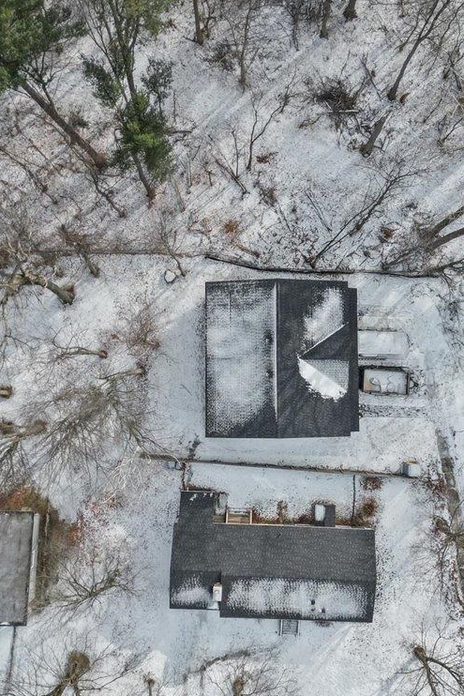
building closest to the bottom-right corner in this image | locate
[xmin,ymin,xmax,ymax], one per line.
[169,489,378,633]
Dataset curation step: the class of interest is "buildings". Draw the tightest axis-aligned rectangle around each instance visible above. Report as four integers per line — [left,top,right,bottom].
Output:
[206,279,358,438]
[0,509,41,628]
[169,489,378,633]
